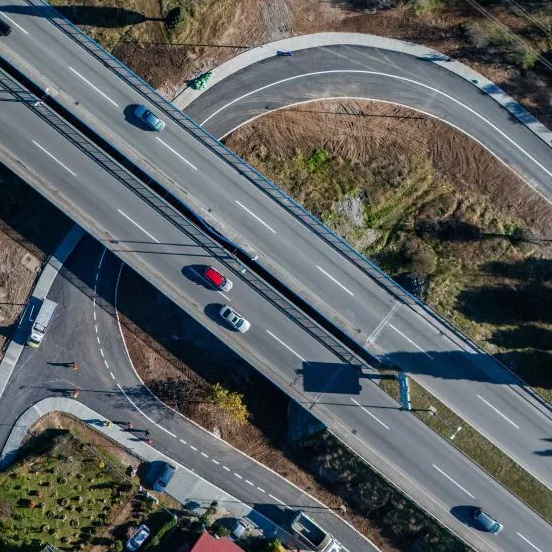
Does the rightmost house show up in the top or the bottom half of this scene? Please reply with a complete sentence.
It is in the bottom half that the rightmost house appears.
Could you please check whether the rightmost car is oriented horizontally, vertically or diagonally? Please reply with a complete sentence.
From this overhead view, the rightmost car appears to run diagonally.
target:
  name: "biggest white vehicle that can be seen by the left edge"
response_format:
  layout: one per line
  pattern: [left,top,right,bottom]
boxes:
[25,296,60,351]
